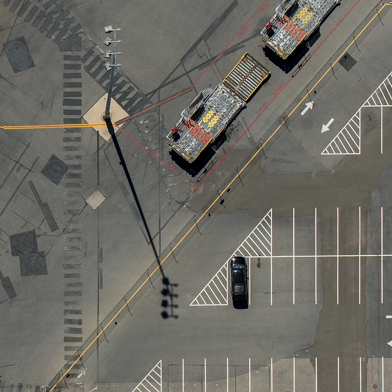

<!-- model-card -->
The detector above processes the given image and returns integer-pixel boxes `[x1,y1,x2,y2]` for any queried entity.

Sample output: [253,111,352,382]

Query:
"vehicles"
[262,0,343,60]
[229,257,249,301]
[167,57,273,165]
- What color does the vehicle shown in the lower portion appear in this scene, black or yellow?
black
